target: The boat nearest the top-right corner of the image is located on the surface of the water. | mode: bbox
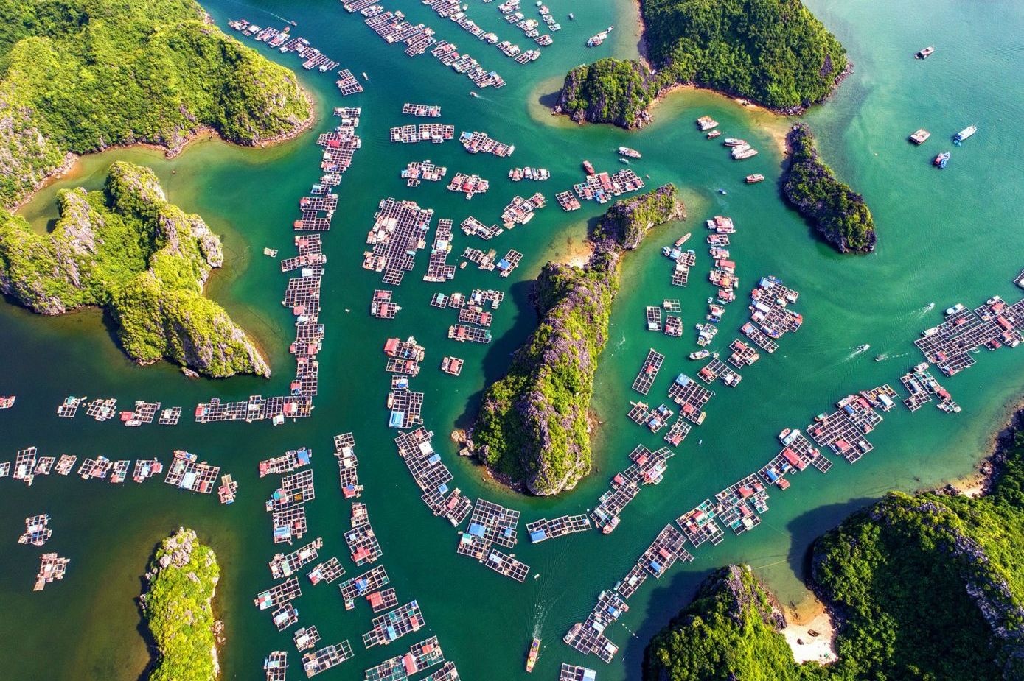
[914,45,936,58]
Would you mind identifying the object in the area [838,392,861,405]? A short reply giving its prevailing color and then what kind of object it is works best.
white boat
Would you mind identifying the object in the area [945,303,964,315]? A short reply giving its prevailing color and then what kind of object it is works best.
white boat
